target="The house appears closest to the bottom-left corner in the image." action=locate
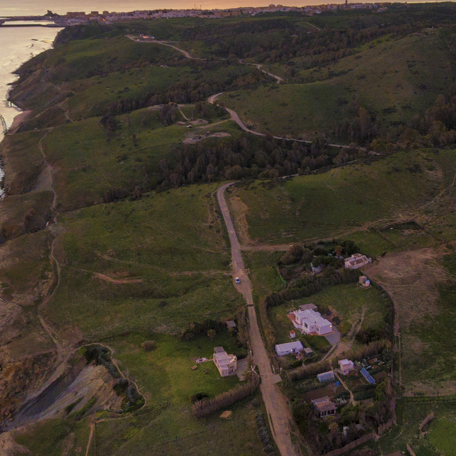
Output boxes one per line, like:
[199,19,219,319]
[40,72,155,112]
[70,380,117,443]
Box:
[212,348,237,377]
